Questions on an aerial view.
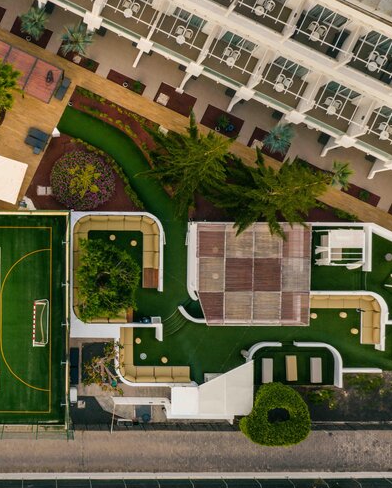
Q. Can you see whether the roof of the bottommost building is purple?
No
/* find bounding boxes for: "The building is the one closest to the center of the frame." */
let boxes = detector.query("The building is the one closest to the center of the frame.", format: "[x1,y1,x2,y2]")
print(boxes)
[192,223,311,325]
